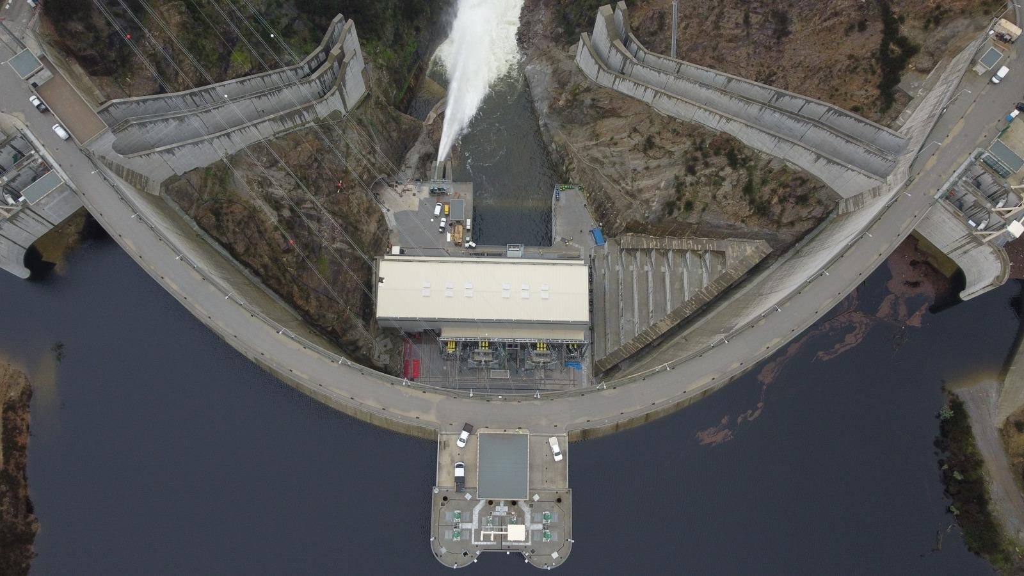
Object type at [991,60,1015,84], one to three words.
vehicle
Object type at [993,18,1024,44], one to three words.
truck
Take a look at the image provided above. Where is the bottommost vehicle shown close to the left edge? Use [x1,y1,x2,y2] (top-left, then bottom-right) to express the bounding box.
[48,121,70,140]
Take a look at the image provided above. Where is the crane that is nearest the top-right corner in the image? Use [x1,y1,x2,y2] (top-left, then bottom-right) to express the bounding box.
[967,184,1024,251]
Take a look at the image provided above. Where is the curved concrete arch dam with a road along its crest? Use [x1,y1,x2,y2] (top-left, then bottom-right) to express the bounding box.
[67,135,935,444]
